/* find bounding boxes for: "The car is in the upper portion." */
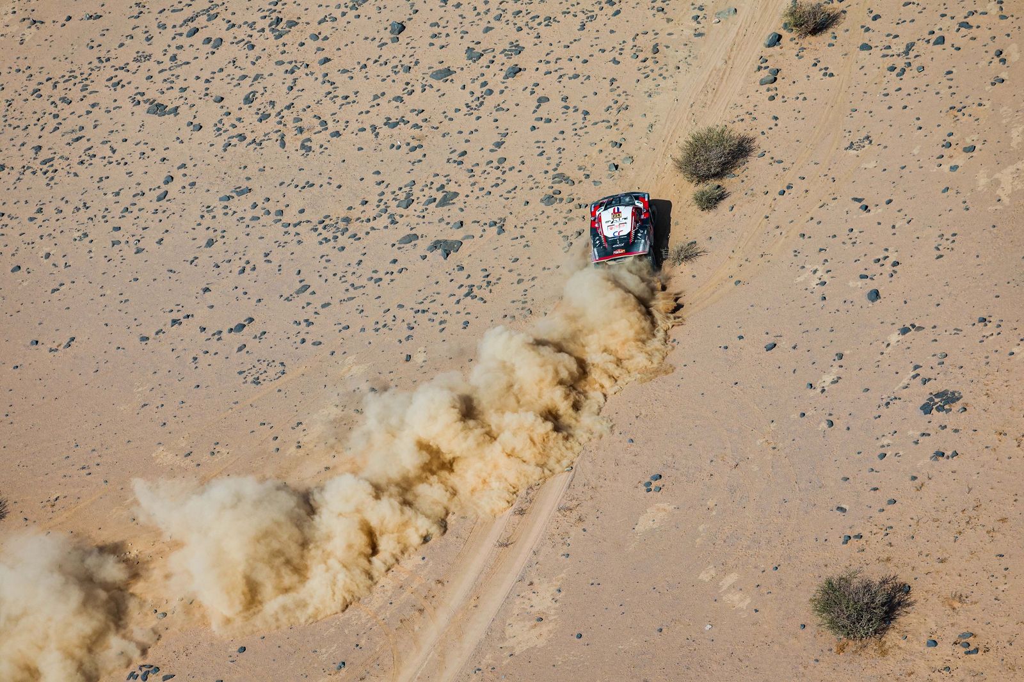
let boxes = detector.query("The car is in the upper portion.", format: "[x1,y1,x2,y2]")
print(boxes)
[590,192,657,282]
